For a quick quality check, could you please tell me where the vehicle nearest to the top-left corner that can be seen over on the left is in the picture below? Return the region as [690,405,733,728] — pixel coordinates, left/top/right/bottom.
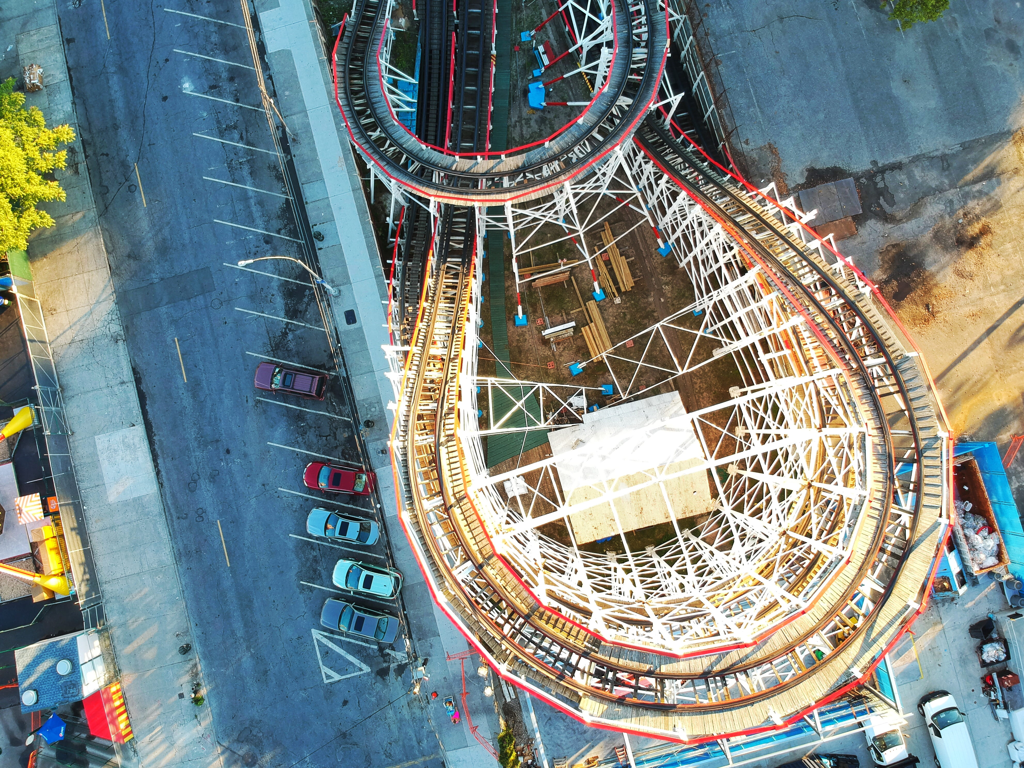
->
[253,361,330,401]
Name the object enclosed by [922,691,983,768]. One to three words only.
van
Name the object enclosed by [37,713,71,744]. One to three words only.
umbrella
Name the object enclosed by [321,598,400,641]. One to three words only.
car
